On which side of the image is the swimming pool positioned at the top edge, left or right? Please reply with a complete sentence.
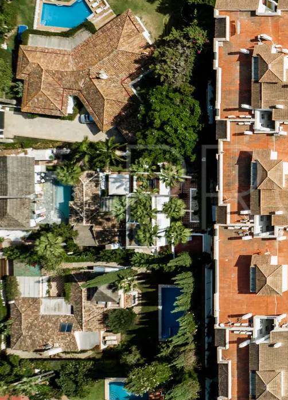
It is on the left.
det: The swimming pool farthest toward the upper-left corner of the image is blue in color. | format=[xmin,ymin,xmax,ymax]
[41,0,92,27]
